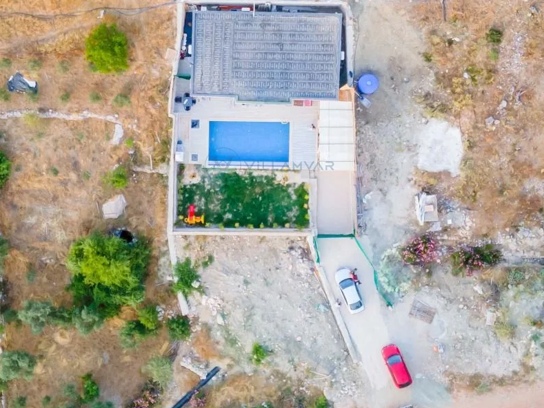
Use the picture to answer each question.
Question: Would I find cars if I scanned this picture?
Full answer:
Yes, I can see a car in this picture.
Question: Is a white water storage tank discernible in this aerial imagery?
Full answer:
No, the photo shows no white water storage tank.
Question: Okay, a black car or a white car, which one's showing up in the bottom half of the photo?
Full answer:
The feature located in the bottom half of the photo is a white car.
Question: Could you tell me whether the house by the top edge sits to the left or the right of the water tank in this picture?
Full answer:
The house by the top edge appears to the left of the water tank in this view.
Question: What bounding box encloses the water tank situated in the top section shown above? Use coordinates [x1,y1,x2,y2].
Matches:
[353,71,380,95]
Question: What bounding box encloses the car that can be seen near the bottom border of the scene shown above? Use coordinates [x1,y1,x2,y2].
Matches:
[384,345,413,392]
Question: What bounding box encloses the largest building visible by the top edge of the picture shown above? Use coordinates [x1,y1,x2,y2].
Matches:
[191,12,342,105]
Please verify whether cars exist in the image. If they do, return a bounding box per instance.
[384,345,413,392]
[334,267,366,318]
